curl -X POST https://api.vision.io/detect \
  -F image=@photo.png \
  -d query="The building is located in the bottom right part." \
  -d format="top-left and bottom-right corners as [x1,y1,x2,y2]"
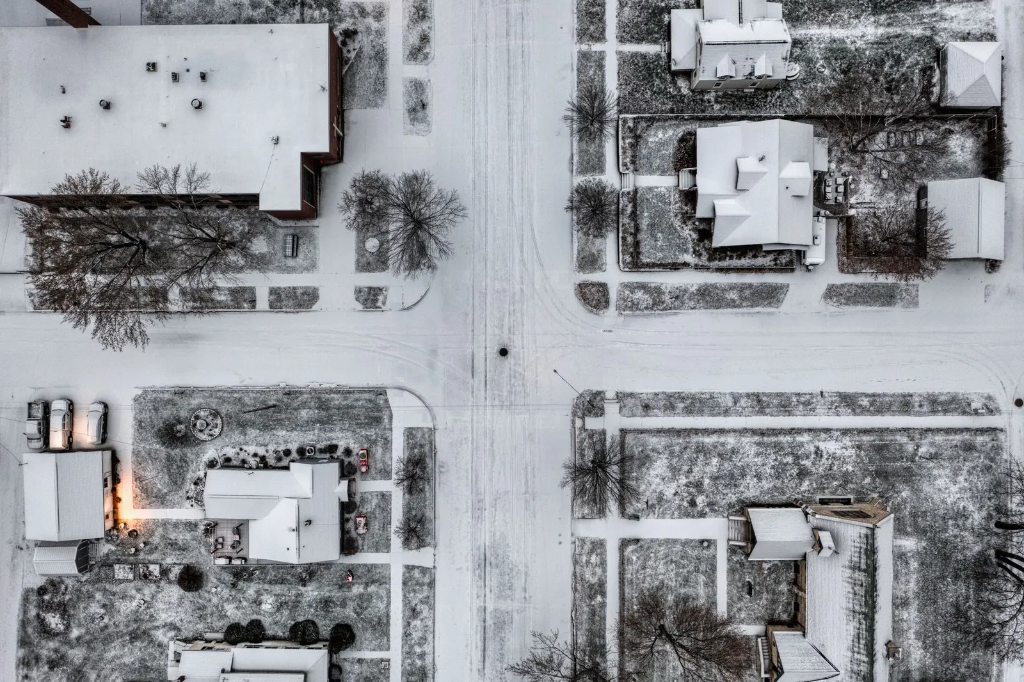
[726,493,901,682]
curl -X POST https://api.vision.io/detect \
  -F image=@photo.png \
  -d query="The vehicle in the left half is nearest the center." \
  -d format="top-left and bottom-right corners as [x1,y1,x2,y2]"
[357,449,369,472]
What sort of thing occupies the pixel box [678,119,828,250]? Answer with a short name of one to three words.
house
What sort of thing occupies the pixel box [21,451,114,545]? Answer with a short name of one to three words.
building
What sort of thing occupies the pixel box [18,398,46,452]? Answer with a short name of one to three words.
truck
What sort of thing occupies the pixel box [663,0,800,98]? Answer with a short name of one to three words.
house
